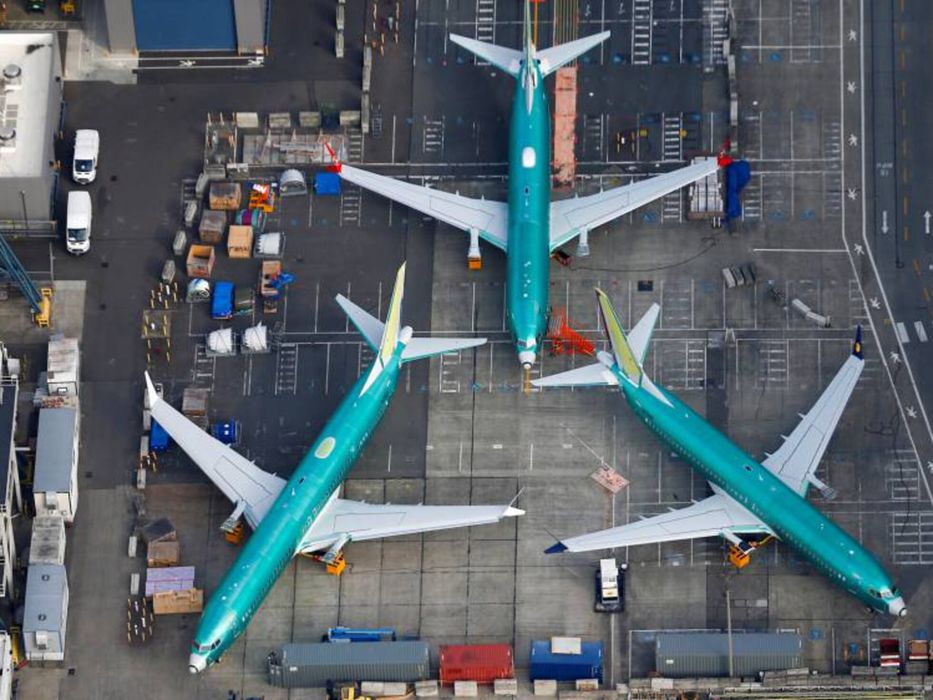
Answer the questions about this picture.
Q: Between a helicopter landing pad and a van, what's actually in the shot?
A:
van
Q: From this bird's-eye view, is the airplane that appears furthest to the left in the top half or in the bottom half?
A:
bottom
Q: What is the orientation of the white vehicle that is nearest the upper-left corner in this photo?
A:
vertically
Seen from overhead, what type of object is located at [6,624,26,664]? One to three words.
work vehicle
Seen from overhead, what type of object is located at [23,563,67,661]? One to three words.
trailer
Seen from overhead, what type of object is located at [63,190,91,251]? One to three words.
van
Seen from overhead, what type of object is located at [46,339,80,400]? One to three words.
trailer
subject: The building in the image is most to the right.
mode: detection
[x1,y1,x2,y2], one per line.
[132,0,239,52]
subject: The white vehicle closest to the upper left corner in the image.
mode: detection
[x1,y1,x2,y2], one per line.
[70,129,97,180]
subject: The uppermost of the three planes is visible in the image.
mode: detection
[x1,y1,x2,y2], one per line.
[325,0,733,367]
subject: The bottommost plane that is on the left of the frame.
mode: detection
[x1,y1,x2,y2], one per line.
[145,262,527,674]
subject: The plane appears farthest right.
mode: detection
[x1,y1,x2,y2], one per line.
[530,288,907,616]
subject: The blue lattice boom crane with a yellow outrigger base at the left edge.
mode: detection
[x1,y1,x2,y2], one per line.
[0,226,52,326]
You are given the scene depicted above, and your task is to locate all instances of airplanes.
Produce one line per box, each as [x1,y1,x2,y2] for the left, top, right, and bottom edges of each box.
[325,0,733,367]
[530,288,907,616]
[145,262,527,674]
